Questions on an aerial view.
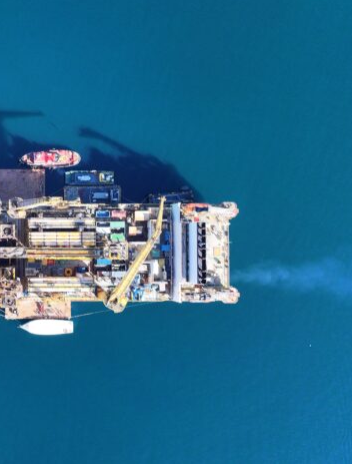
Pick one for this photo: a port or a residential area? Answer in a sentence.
This image shows a port.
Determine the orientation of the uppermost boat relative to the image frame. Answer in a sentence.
In this picture, the uppermost boat is oriented horizontally.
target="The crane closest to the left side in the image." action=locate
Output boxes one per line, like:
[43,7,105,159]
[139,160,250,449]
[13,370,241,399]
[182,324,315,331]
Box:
[2,194,56,216]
